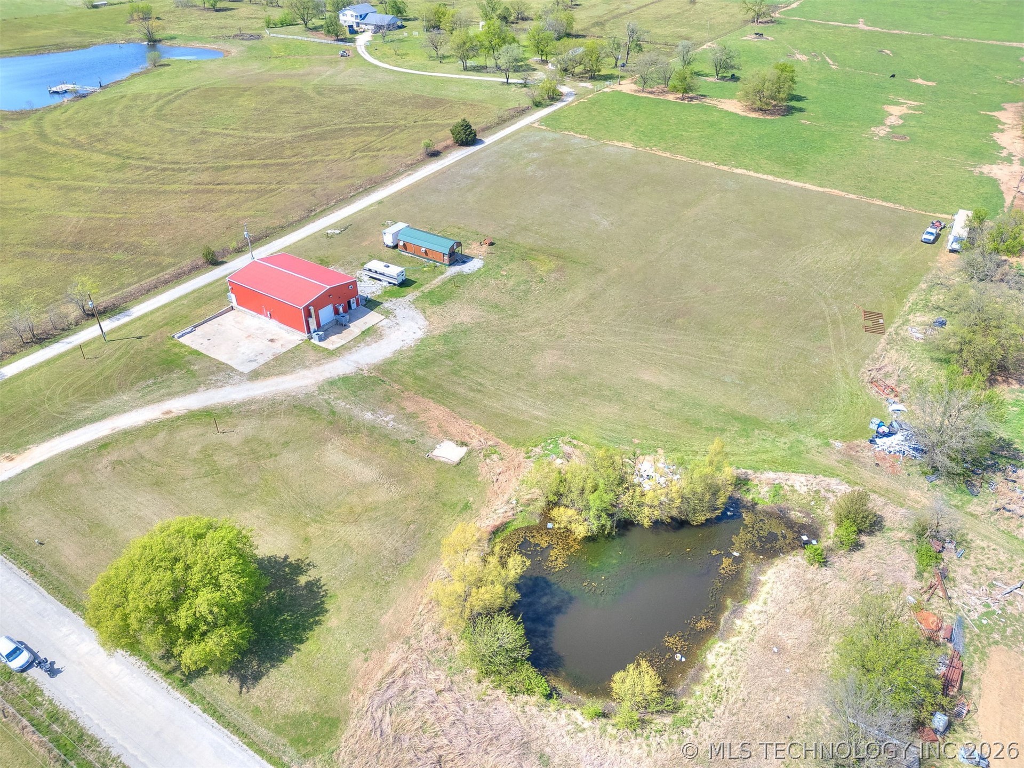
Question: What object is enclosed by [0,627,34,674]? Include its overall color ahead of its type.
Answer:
white car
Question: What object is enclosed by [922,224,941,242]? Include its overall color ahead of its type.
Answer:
white vehicle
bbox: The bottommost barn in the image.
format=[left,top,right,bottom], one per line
[220,253,364,337]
